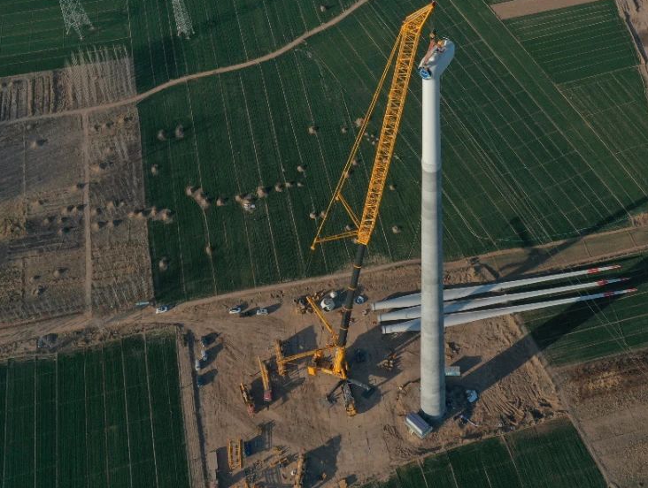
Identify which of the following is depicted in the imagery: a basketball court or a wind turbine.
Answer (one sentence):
This aerial view contains a wind turbine.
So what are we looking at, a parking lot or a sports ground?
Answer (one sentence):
It's a parking lot.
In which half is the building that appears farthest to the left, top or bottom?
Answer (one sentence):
Seen from above, the building that appears farthest to the left lies in the bottom half of the view.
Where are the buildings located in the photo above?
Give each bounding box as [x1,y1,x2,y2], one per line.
[444,363,464,377]
[404,412,432,442]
